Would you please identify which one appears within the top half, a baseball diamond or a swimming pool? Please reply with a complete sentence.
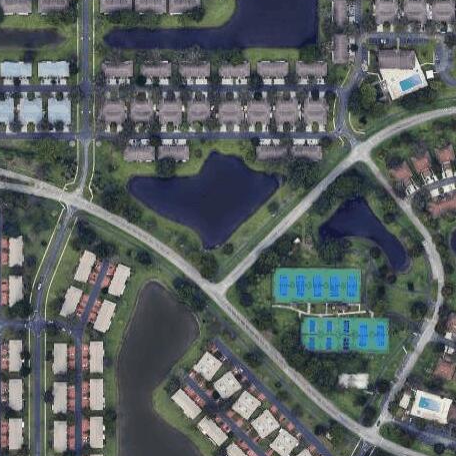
The feature located within the top half is a swimming pool.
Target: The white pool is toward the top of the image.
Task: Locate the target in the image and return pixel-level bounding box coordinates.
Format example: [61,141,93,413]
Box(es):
[380,57,429,101]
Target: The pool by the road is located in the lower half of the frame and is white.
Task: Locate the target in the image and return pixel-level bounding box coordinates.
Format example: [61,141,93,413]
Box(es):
[412,391,452,424]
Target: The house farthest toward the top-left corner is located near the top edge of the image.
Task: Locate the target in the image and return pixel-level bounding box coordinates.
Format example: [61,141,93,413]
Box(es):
[2,0,32,15]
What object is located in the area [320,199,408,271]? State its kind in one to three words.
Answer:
pond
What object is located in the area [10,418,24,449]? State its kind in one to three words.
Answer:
house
